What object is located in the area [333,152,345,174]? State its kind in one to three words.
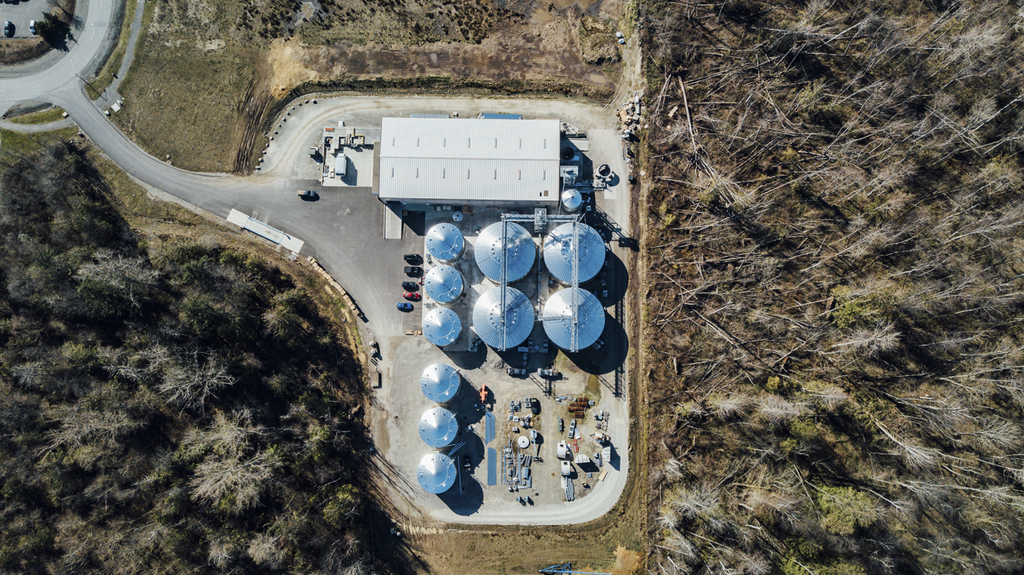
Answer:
vehicle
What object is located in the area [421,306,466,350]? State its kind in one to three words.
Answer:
silo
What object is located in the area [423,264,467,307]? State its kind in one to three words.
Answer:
silo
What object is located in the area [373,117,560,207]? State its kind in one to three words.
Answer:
building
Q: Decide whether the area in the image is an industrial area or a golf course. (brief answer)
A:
industrial area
